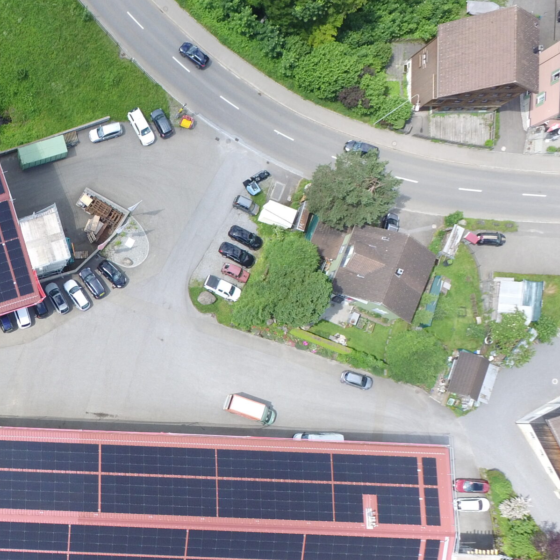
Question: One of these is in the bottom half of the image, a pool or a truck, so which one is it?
truck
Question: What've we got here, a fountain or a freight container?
freight container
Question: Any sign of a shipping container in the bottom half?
No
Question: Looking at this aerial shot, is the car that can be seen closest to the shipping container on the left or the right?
left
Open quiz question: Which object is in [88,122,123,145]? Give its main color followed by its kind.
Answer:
white car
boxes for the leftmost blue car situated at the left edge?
[0,311,15,333]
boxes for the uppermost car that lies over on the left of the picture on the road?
[175,42,213,72]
